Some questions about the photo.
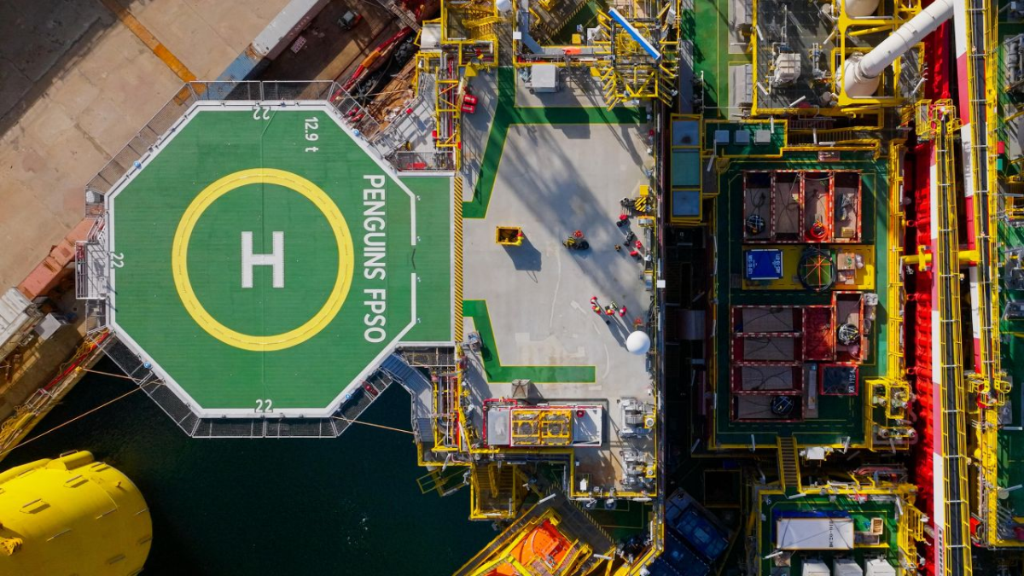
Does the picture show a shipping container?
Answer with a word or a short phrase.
Yes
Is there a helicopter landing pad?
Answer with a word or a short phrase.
Yes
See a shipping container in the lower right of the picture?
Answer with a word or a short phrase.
Yes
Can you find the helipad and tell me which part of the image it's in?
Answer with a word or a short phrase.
left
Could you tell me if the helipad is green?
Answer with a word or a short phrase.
Yes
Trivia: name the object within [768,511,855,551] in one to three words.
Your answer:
shipping container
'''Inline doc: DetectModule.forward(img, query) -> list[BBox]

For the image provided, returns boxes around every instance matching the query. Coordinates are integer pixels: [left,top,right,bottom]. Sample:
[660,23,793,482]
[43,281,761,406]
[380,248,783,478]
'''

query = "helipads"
[85,81,455,437]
